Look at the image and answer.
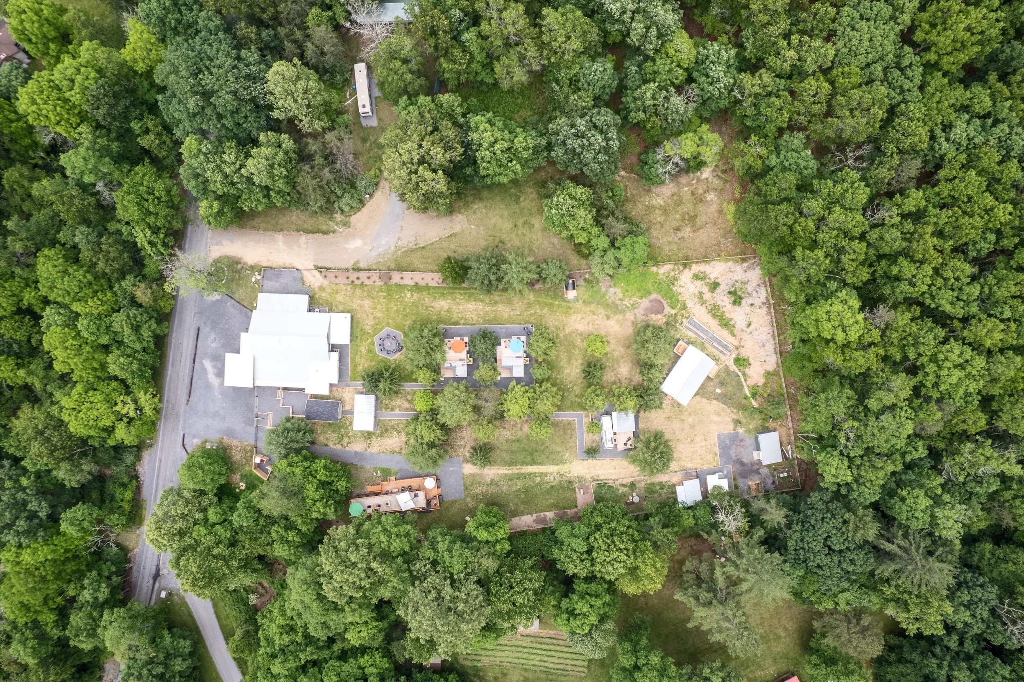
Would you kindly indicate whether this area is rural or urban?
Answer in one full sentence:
From above, the setting appears rural.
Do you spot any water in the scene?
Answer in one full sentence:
No, there is no water in the image.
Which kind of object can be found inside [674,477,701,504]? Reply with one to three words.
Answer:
shed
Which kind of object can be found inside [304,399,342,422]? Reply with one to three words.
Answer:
building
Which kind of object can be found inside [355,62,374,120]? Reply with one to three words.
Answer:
camper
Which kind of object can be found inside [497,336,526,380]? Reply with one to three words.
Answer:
building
